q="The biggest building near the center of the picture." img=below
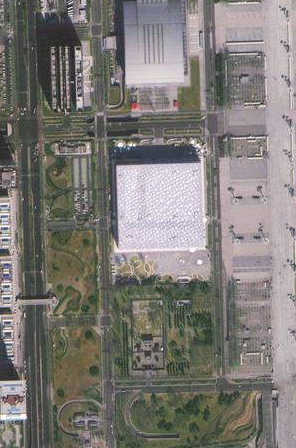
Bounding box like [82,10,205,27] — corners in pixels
[115,162,206,251]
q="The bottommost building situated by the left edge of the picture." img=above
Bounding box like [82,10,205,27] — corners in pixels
[0,380,26,422]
